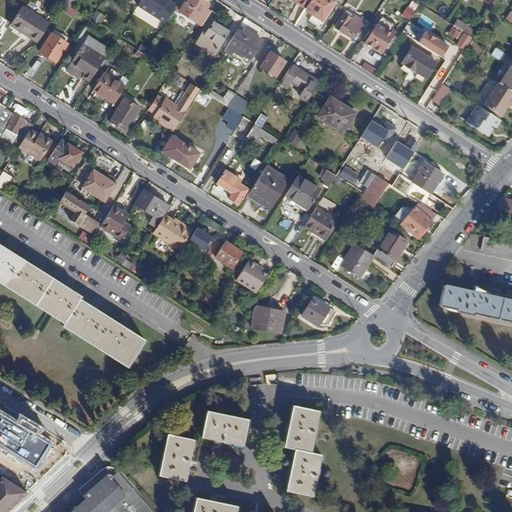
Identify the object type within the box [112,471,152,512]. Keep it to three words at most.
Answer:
building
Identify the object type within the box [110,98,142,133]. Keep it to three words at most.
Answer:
house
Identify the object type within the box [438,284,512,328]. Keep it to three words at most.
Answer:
building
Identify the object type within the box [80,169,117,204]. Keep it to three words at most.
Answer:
house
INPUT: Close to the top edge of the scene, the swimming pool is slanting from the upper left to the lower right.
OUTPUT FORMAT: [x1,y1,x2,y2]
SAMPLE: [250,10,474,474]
[416,13,436,30]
